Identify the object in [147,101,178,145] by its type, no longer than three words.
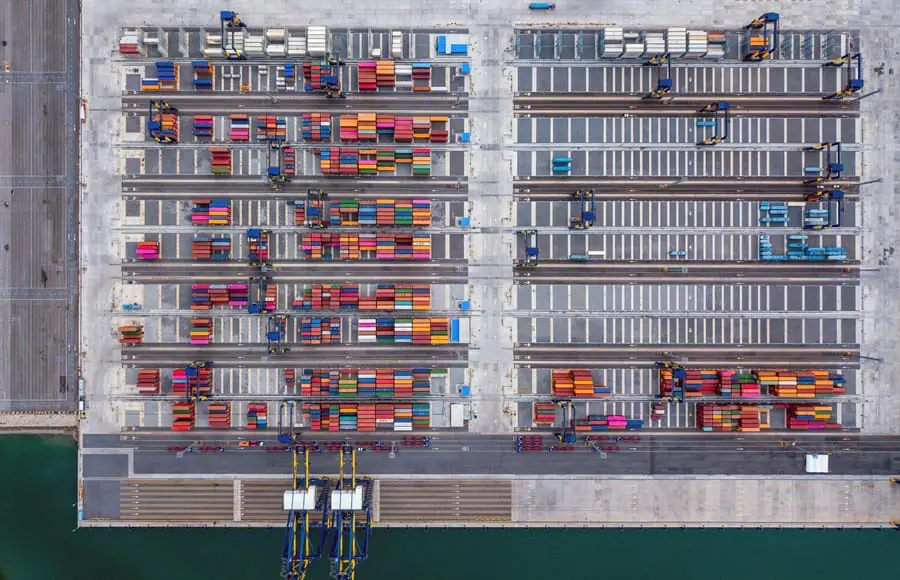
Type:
container crane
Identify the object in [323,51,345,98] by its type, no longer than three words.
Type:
container crane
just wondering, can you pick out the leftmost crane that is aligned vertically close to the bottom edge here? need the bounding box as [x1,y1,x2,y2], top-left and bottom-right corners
[274,447,338,580]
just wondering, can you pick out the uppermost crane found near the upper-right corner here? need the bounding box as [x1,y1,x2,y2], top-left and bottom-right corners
[744,12,780,61]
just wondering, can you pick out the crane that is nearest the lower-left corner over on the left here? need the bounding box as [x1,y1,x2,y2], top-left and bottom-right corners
[184,361,212,403]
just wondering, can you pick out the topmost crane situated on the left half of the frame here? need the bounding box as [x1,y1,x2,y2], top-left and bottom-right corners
[219,11,246,61]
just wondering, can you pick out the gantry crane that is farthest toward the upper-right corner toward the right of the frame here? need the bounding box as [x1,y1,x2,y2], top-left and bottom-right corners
[824,51,865,98]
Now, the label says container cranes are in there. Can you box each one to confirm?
[643,51,673,98]
[219,11,246,61]
[323,51,345,98]
[265,314,290,354]
[265,141,290,183]
[657,361,688,403]
[824,51,865,98]
[517,228,540,267]
[147,101,178,145]
[570,189,596,229]
[553,399,577,443]
[248,277,273,315]
[698,101,730,145]
[305,189,328,229]
[277,399,301,444]
[805,141,844,183]
[744,12,780,61]
[184,361,212,403]
[245,228,271,267]
[805,189,845,229]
